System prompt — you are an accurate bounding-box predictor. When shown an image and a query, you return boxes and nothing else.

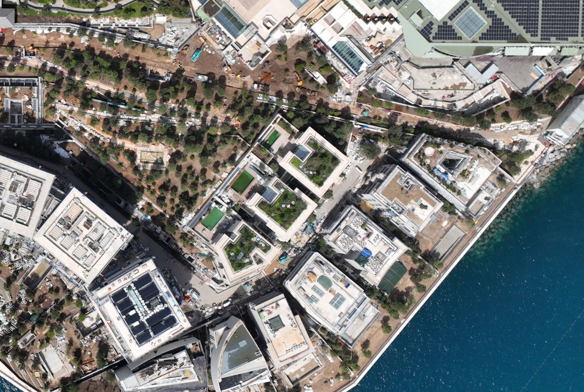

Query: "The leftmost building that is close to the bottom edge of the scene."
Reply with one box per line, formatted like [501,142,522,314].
[39,345,67,379]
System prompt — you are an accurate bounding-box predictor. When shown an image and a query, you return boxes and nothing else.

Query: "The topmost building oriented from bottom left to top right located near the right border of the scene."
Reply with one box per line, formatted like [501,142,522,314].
[539,74,584,144]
